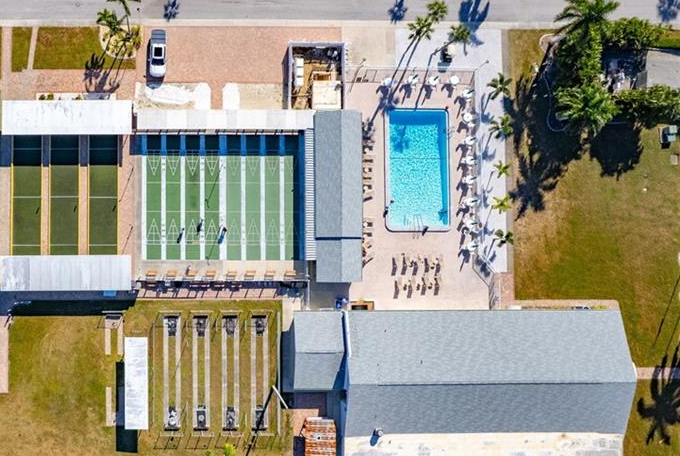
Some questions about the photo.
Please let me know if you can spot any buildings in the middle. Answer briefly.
Yes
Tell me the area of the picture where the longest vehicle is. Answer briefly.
top left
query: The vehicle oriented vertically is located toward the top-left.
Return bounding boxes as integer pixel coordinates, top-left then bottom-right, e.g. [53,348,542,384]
[148,28,168,77]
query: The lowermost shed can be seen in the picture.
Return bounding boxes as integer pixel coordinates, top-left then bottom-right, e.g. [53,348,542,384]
[301,417,336,456]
